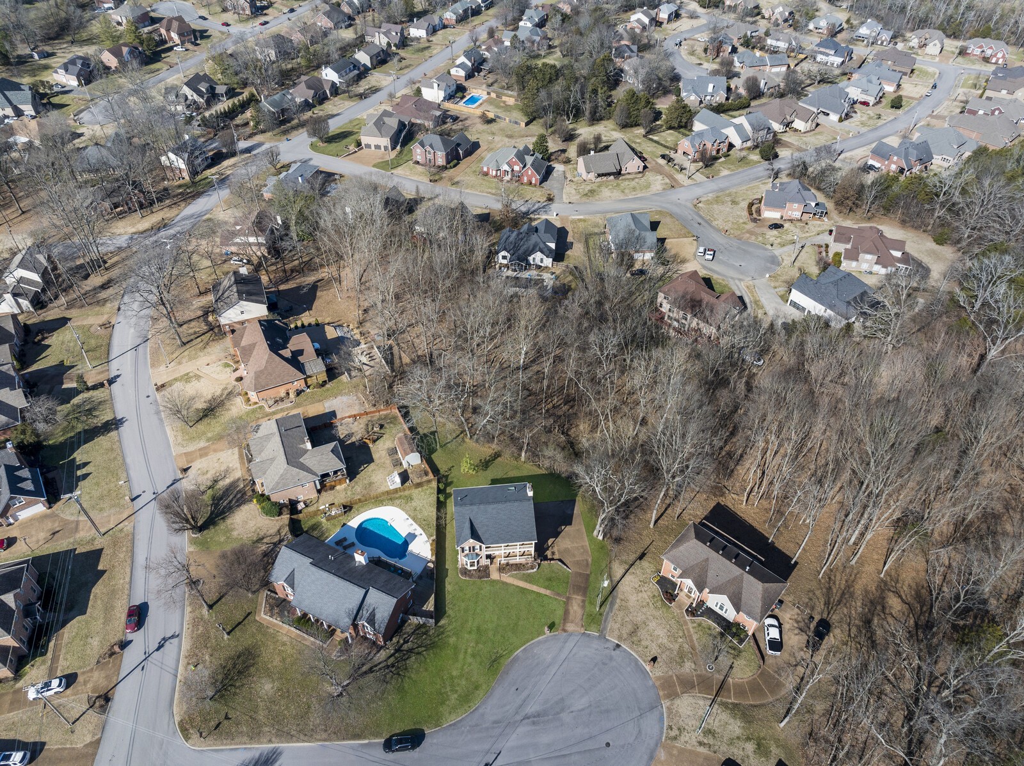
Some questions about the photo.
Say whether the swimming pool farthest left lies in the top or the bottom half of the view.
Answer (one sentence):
You can find the swimming pool farthest left in the bottom half.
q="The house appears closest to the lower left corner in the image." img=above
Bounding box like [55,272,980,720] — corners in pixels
[0,552,56,692]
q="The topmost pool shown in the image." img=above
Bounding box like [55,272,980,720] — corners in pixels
[461,92,489,105]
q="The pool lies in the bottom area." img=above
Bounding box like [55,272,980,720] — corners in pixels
[325,506,432,577]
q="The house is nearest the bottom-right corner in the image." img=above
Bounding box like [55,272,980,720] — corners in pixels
[660,517,789,634]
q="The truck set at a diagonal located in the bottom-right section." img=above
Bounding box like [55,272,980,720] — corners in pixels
[802,615,834,654]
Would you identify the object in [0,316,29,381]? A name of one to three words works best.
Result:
house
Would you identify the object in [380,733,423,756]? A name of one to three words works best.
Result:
car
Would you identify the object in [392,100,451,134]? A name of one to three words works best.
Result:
house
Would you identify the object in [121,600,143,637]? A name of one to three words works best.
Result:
car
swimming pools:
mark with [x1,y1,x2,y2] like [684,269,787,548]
[461,92,489,105]
[325,506,432,577]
